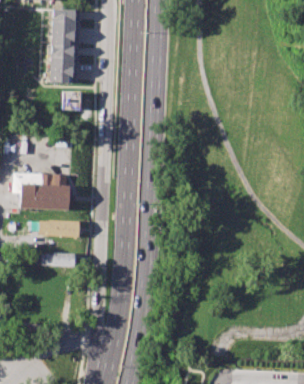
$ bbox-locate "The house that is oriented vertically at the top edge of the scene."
[50,8,76,82]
